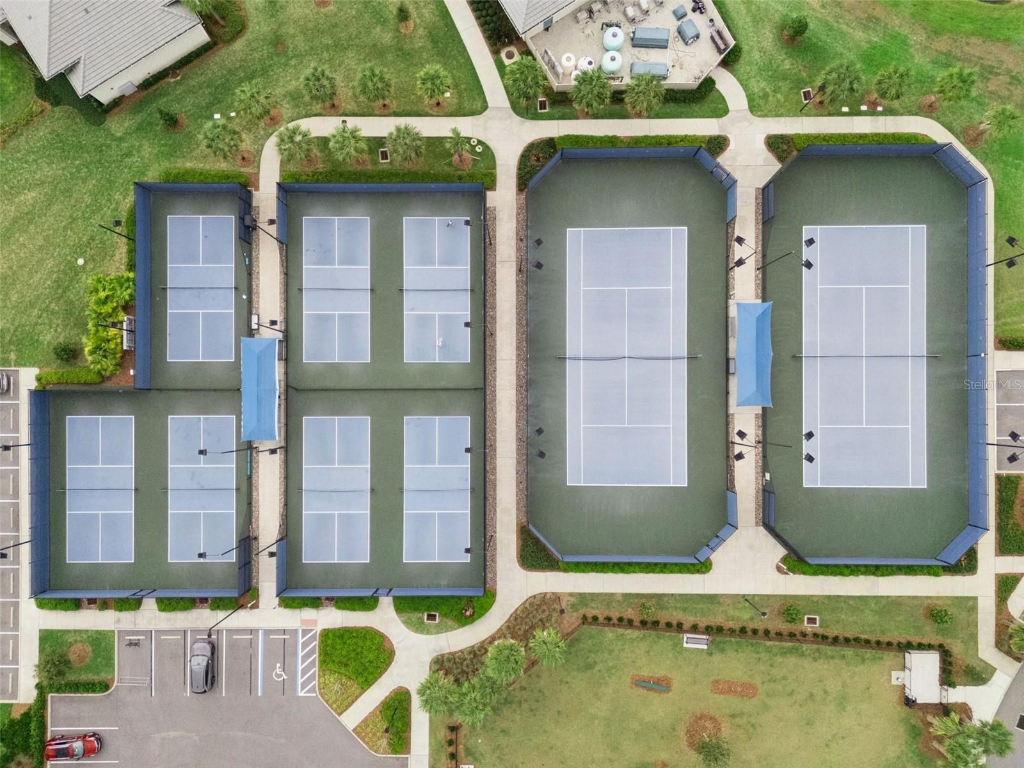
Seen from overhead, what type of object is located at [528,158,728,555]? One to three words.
tennis court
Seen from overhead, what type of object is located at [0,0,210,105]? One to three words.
building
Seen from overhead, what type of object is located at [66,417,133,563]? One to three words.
sports court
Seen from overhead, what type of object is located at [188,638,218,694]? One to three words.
car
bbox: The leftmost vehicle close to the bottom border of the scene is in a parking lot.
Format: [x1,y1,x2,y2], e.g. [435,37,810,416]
[44,730,104,762]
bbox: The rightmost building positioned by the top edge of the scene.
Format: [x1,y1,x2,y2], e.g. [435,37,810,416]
[498,0,598,45]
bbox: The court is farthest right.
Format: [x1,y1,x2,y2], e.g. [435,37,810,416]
[763,155,968,559]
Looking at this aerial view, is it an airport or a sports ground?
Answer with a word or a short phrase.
sports ground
